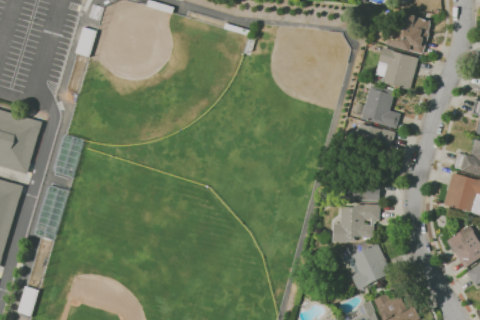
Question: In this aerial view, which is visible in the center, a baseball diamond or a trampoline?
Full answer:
It is a baseball diamond that can be seen in the center.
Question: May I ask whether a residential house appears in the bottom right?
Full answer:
Yes, you'll find a residential house in the bottom right.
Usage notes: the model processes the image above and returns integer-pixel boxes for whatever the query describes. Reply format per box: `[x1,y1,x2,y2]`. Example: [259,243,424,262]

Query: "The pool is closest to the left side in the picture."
[299,304,326,320]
